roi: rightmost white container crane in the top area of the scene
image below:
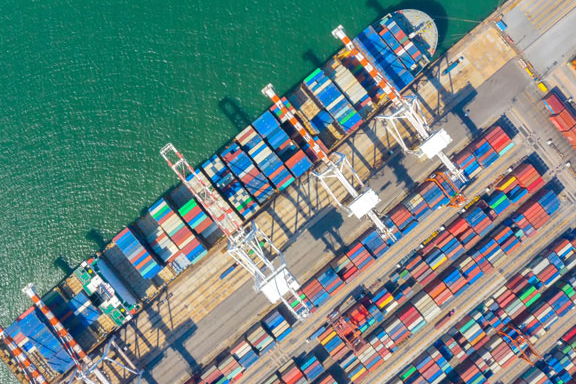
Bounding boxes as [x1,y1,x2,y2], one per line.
[333,24,470,184]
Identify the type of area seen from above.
port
